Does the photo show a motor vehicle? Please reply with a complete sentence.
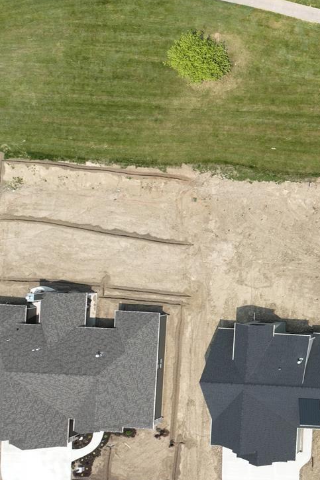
No, no motor vehicle can be seen from above.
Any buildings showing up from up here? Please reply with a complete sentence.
Yes, there's a building down there.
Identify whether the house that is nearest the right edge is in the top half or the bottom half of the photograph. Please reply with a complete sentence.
The house that is nearest the right edge is in the bottom half of the image.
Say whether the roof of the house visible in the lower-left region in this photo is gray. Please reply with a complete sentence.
Yes, gray is the color of the roof of the house visible in the lower-left region.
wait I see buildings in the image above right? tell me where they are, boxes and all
[199,322,320,467]
[0,292,164,452]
